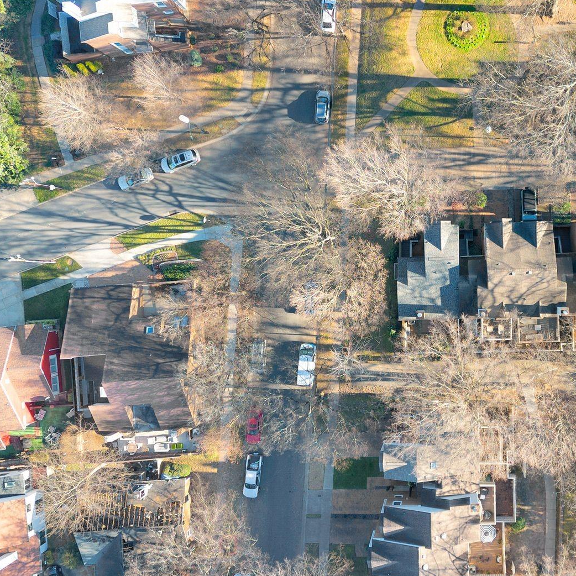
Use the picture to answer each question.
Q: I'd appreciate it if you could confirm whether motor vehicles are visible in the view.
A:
Yes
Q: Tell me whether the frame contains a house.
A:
Yes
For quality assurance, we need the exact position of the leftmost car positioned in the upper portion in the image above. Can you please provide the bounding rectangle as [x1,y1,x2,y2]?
[118,168,156,190]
